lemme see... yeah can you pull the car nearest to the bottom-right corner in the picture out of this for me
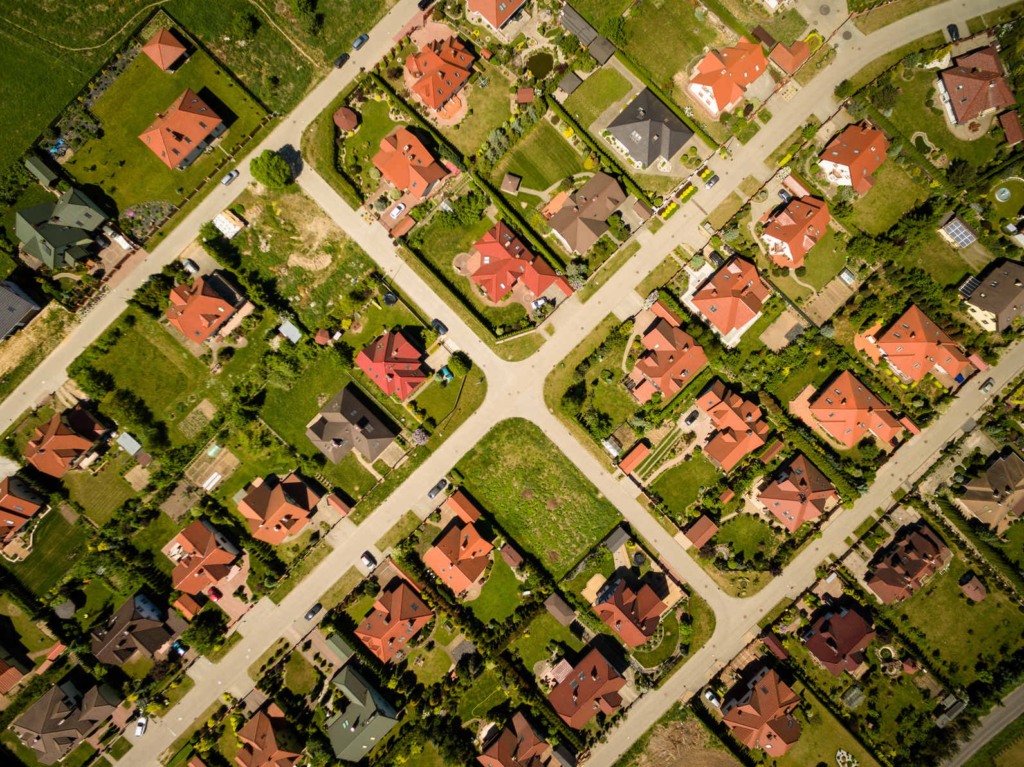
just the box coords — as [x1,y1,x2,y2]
[818,587,836,610]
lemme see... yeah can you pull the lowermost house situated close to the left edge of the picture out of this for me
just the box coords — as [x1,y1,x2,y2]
[13,679,123,766]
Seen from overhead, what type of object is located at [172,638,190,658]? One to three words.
car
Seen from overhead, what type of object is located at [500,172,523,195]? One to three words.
gazebo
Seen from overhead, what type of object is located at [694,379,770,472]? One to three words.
house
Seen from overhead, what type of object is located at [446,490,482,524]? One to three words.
building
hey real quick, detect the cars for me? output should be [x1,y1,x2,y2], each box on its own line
[172,638,190,658]
[360,551,378,570]
[888,436,902,451]
[528,296,548,310]
[945,22,960,43]
[181,256,202,277]
[426,477,449,501]
[973,378,996,399]
[818,587,836,610]
[702,687,723,709]
[706,247,727,270]
[773,185,794,207]
[429,316,451,337]
[415,0,437,14]
[948,373,968,386]
[439,363,455,383]
[134,713,151,740]
[681,407,702,429]
[301,600,326,624]
[350,32,371,53]
[219,168,242,187]
[101,224,118,241]
[701,172,723,193]
[389,202,407,221]
[332,52,352,71]
[93,233,114,253]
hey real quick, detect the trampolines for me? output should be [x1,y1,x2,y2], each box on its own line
[382,292,397,306]
[633,553,648,566]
